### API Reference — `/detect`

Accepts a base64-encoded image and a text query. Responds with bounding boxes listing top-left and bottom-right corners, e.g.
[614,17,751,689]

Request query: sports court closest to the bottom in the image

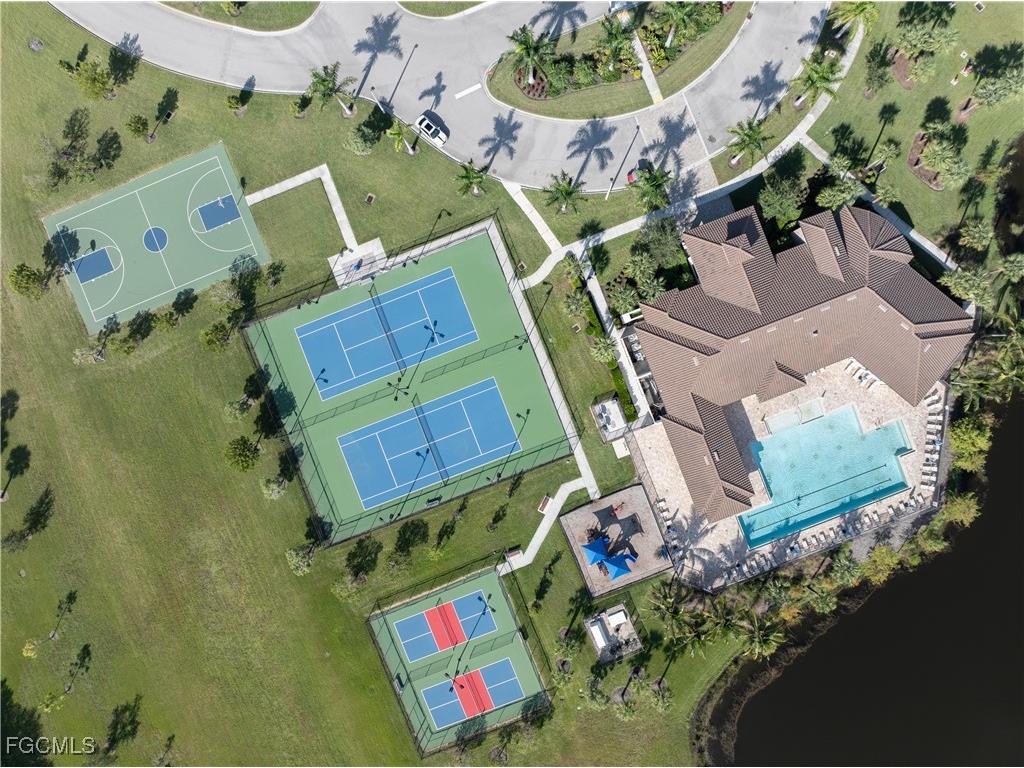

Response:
[421,657,525,730]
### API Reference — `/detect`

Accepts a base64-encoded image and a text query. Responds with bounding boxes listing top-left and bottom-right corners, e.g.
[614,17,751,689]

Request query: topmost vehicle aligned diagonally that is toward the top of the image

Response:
[416,115,447,147]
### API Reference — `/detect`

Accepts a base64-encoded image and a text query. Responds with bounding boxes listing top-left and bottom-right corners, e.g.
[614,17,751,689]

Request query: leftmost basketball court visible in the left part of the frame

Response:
[57,157,257,322]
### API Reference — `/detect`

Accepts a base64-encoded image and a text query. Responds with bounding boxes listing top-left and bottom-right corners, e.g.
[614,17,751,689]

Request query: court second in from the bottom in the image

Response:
[394,590,497,663]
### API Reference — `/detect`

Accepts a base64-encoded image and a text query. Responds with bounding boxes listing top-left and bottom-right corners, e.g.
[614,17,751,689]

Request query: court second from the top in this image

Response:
[294,267,479,401]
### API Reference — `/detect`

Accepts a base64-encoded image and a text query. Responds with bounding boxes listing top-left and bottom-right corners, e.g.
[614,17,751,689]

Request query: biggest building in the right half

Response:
[635,205,975,526]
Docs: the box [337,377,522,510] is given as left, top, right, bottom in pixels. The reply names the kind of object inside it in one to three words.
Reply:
tennis court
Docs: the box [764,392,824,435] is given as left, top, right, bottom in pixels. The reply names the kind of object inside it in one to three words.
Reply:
swimming pool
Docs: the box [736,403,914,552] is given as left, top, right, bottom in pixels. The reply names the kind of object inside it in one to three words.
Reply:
swimming pool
